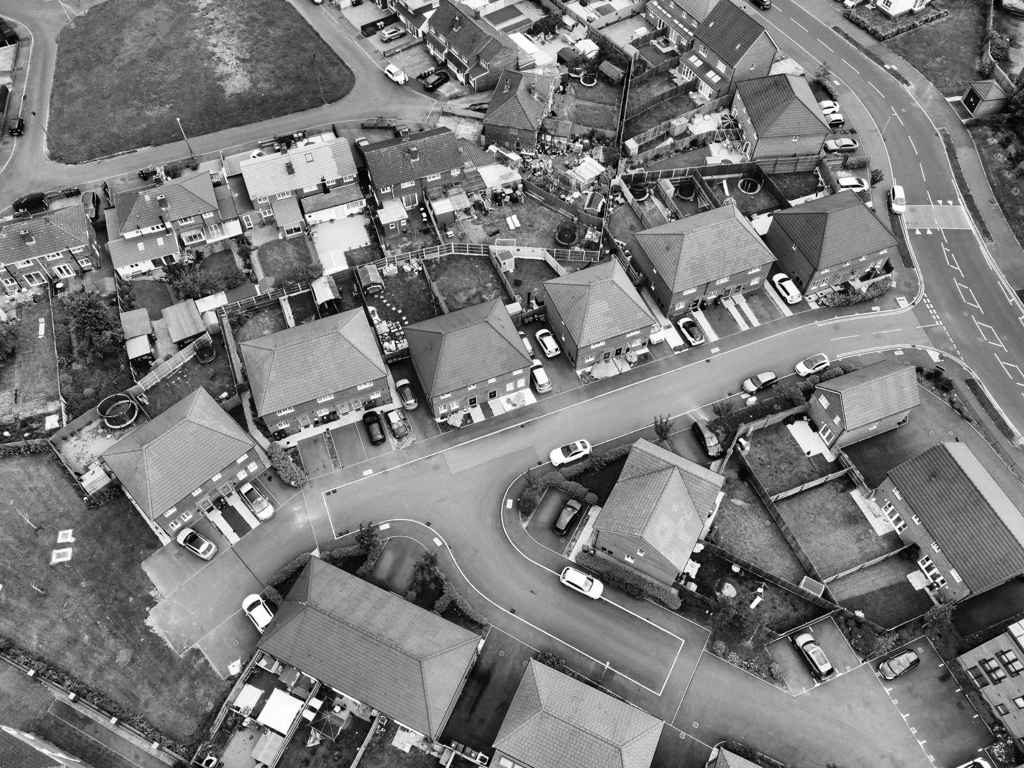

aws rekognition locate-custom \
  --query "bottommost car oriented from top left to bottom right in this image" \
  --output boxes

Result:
[794,632,838,681]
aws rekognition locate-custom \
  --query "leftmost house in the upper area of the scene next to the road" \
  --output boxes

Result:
[0,202,104,296]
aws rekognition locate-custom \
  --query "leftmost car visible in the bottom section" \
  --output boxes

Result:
[174,526,219,561]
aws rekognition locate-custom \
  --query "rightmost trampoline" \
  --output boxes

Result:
[737,178,763,196]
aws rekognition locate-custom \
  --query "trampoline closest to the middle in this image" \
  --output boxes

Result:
[554,218,582,249]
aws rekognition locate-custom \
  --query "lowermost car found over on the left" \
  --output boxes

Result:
[235,592,270,636]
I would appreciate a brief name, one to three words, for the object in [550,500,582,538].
car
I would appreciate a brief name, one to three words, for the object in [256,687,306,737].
gazebo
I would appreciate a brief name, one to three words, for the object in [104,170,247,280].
house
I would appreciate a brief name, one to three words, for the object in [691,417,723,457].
car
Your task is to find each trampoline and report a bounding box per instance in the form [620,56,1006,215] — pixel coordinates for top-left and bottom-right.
[190,339,220,368]
[675,185,697,201]
[554,218,582,249]
[737,178,763,196]
[628,180,651,204]
[95,392,141,433]
[632,55,649,75]
[579,65,600,89]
